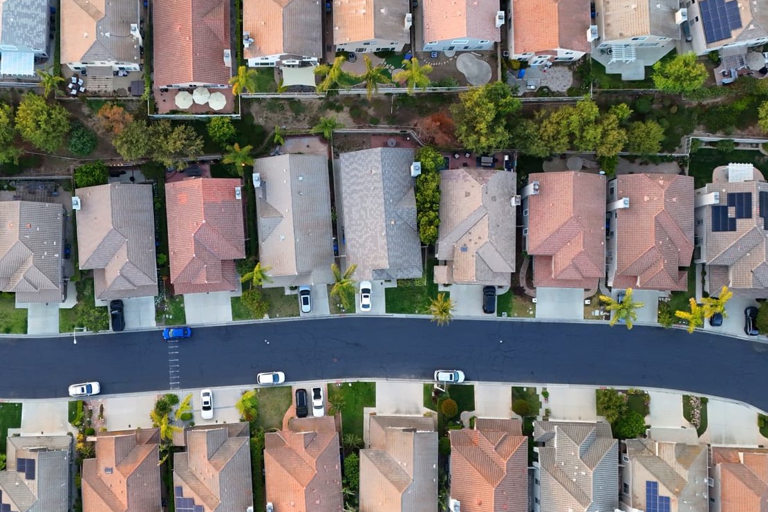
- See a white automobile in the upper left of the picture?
No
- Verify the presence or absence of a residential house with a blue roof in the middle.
No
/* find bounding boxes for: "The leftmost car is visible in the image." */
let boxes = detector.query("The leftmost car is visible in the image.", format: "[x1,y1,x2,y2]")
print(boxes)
[68,380,103,396]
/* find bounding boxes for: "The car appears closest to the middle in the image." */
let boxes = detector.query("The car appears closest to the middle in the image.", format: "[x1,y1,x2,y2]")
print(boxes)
[359,281,373,312]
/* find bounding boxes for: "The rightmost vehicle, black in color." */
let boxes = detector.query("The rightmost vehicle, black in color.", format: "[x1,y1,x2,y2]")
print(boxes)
[742,305,759,336]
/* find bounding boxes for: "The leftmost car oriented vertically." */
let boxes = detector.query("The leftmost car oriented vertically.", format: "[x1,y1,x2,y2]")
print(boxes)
[109,299,125,332]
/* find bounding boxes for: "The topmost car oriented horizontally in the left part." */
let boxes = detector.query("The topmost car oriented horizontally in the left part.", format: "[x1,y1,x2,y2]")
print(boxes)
[162,326,192,340]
